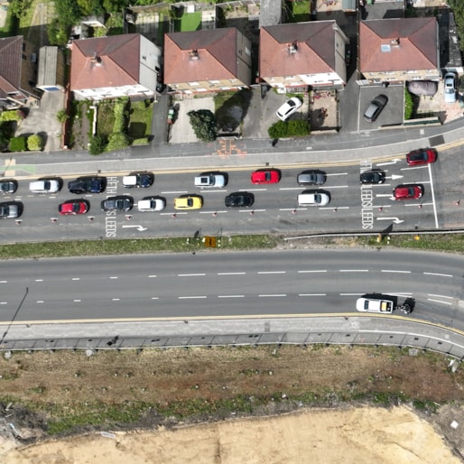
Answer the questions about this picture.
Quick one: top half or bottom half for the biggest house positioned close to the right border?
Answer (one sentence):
The top half of the photo is where the biggest house positioned close to the right border is.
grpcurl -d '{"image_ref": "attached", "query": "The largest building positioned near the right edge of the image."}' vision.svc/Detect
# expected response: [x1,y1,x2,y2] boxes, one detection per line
[359,17,441,86]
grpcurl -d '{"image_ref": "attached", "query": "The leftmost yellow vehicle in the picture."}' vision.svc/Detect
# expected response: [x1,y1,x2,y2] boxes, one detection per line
[174,195,204,211]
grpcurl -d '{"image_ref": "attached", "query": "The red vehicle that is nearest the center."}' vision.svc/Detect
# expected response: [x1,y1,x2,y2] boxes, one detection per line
[251,169,281,184]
